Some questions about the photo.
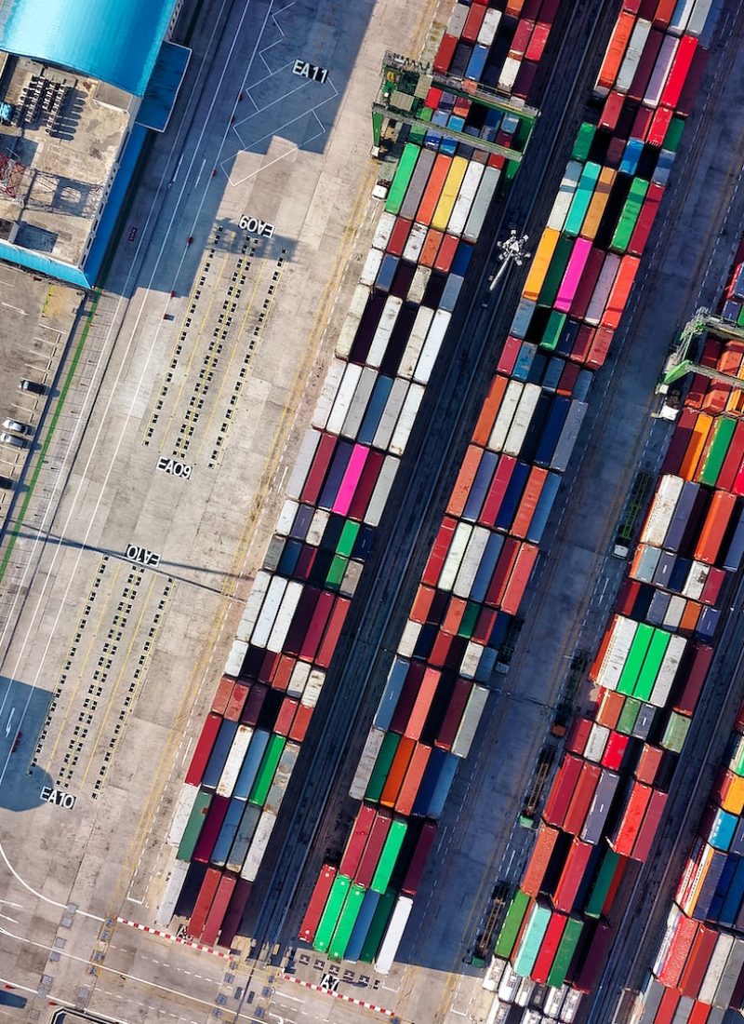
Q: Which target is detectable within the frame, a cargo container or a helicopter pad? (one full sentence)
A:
The one in the frame is a cargo container.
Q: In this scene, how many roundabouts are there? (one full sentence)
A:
Not a single roundabout can be seen.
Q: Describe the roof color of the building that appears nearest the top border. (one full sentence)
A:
The color of the roof on the building that appears nearest the top border is blue.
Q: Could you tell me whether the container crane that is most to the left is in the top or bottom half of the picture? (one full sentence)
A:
The top half of the photo is where the container crane that is most to the left is.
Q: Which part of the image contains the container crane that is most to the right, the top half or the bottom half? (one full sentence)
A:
The container crane that is most to the right is in the top half of the image.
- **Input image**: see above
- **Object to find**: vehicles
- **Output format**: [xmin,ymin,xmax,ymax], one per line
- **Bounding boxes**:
[547,654,589,741]
[3,421,29,438]
[515,745,557,832]
[20,381,45,398]
[656,377,683,425]
[0,476,16,491]
[609,474,651,560]
[468,885,510,973]
[492,593,533,678]
[364,119,407,207]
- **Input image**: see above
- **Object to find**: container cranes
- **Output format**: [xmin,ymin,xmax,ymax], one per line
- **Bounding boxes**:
[660,313,744,390]
[369,38,543,194]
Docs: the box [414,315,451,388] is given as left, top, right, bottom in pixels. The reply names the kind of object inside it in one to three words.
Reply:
shipping container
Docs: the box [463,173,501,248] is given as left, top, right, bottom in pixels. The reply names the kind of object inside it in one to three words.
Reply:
shipping container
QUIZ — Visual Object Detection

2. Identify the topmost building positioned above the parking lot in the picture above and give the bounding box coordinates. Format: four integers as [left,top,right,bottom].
[0,0,193,135]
